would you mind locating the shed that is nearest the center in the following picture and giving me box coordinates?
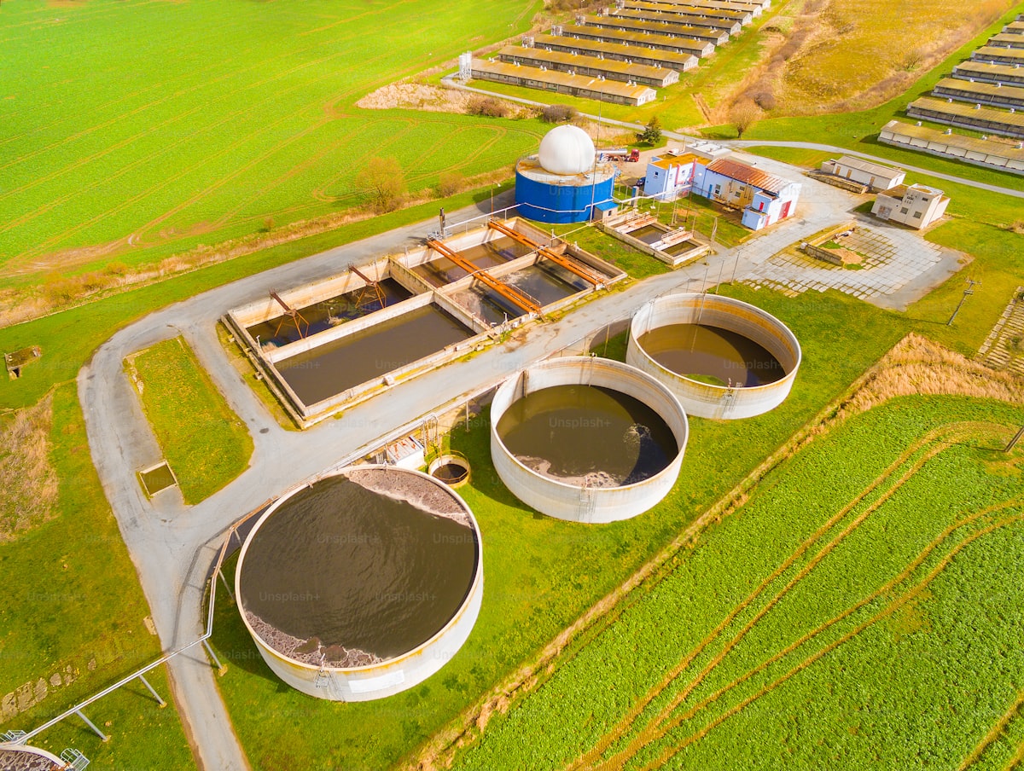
[391,431,426,467]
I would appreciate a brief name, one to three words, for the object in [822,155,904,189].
shed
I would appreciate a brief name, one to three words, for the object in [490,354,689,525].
storage tank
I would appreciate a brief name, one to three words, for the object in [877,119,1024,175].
barn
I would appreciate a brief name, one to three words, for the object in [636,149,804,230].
building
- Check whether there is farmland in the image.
Yes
